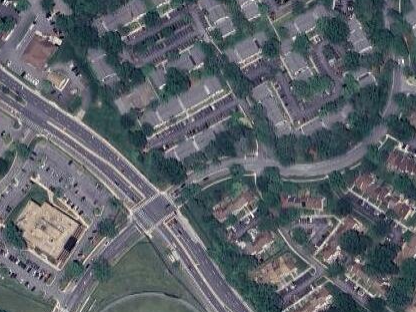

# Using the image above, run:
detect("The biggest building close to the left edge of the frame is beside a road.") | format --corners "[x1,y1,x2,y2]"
[16,201,89,264]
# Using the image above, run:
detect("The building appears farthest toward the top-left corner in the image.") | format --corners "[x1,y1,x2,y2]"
[21,34,62,69]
